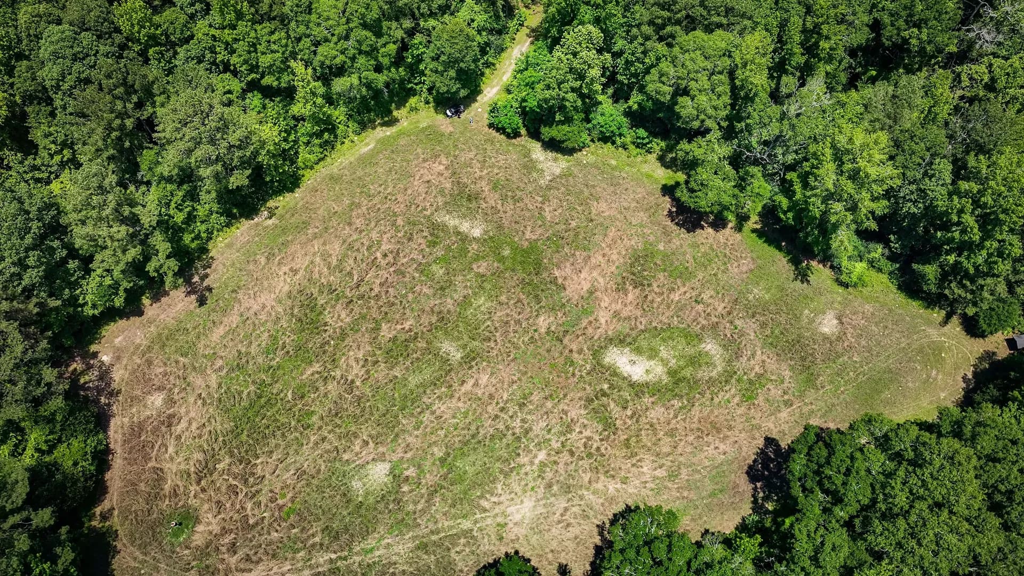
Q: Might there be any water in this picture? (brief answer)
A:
No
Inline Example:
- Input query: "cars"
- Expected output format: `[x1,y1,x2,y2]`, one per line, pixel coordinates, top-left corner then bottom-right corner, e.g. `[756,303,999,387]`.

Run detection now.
[445,104,467,118]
